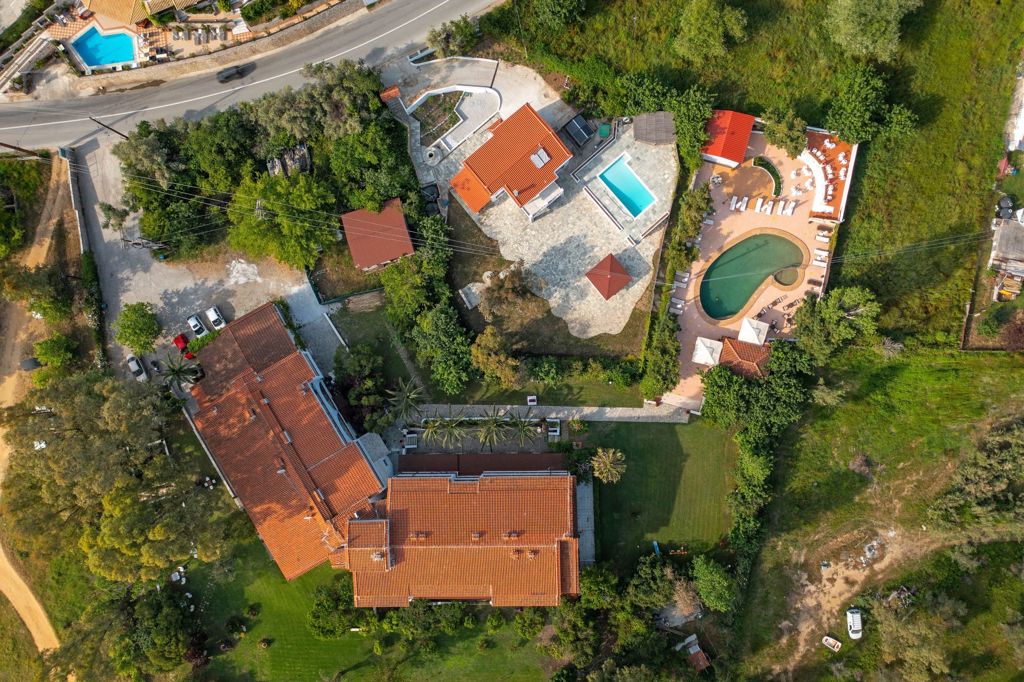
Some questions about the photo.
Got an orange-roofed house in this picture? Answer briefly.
Yes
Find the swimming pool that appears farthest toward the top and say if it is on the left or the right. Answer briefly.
left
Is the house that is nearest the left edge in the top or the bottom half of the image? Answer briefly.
top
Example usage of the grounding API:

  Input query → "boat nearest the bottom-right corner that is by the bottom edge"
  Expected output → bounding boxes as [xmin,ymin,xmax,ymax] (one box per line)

[822,637,842,652]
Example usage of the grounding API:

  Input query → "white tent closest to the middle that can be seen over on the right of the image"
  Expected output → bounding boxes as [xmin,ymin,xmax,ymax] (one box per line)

[688,337,723,366]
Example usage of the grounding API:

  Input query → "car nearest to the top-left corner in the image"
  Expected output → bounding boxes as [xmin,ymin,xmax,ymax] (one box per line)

[218,64,250,85]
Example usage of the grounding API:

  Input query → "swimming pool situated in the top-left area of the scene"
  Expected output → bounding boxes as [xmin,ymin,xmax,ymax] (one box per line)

[66,20,140,69]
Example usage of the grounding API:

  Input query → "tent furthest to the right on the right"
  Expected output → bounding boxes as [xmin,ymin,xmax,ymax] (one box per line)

[738,317,769,345]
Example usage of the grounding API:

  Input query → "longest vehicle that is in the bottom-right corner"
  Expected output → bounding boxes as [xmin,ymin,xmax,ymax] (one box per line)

[844,607,864,640]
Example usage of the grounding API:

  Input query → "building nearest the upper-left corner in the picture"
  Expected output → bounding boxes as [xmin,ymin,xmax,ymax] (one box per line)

[83,0,155,32]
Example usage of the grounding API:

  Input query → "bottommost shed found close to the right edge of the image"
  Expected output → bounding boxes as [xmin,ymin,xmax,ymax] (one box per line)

[981,219,1024,279]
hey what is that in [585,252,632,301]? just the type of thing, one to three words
gazebo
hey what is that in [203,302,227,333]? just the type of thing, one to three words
car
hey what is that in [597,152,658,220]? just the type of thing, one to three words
swimming pool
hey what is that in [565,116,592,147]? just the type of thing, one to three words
shed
